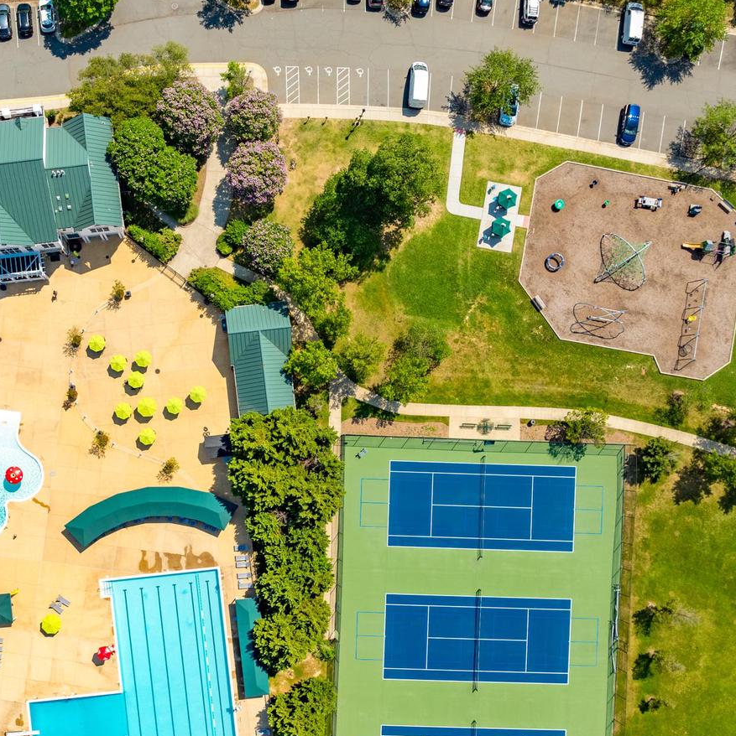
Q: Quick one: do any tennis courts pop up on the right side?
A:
Yes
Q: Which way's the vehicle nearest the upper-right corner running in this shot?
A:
from top to bottom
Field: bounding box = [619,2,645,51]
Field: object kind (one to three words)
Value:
vehicle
